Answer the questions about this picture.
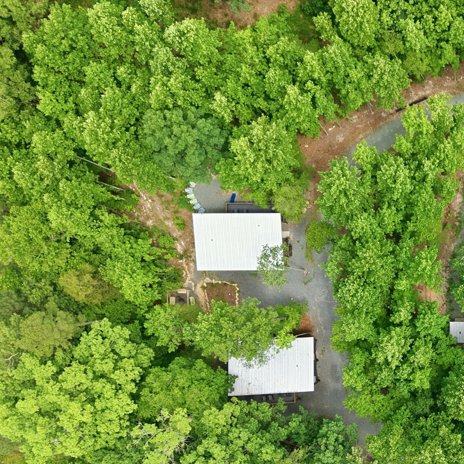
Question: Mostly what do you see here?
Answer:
trees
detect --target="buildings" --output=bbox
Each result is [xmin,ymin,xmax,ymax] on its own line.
[193,203,292,271]
[228,338,321,403]
[449,318,464,343]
